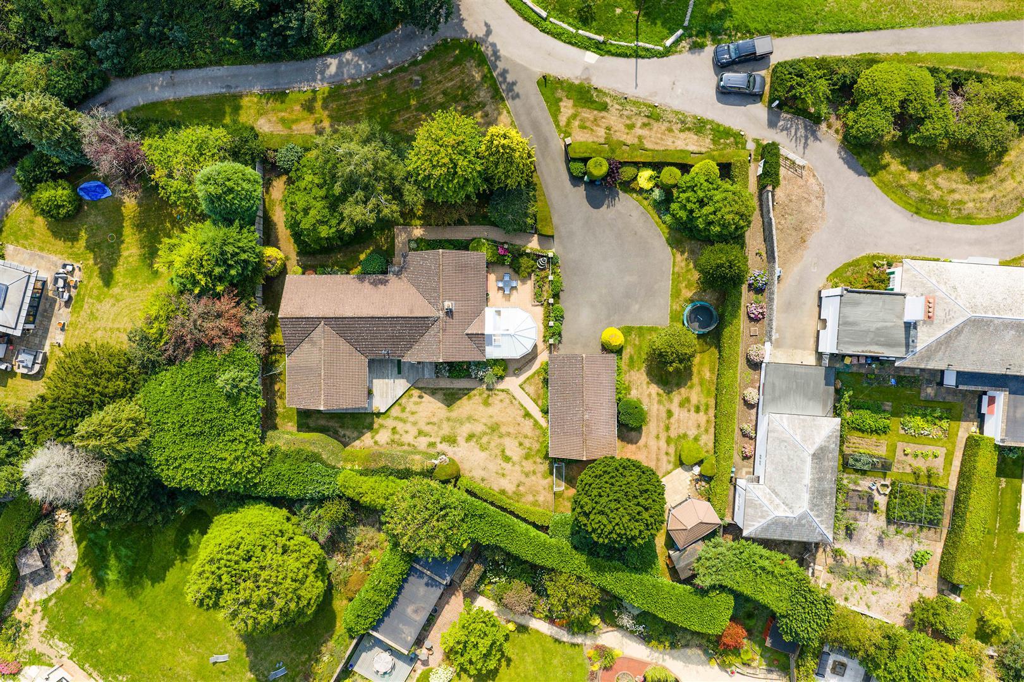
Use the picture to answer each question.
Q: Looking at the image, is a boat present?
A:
No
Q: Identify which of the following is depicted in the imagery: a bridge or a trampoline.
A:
trampoline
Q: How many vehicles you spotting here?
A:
2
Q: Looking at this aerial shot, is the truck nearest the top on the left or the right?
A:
right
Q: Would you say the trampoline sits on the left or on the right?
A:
right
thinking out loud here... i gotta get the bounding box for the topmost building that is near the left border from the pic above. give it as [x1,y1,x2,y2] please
[0,260,50,358]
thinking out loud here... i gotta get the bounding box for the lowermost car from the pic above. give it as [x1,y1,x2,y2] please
[715,70,764,97]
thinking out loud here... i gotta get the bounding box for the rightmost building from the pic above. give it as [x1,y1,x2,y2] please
[875,258,1024,447]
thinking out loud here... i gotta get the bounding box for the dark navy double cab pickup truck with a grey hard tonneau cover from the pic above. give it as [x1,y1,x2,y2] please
[712,35,775,68]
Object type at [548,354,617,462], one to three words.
building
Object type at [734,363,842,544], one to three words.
shed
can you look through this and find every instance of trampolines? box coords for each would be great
[678,299,722,334]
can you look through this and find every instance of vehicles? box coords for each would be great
[715,70,764,97]
[712,35,775,68]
